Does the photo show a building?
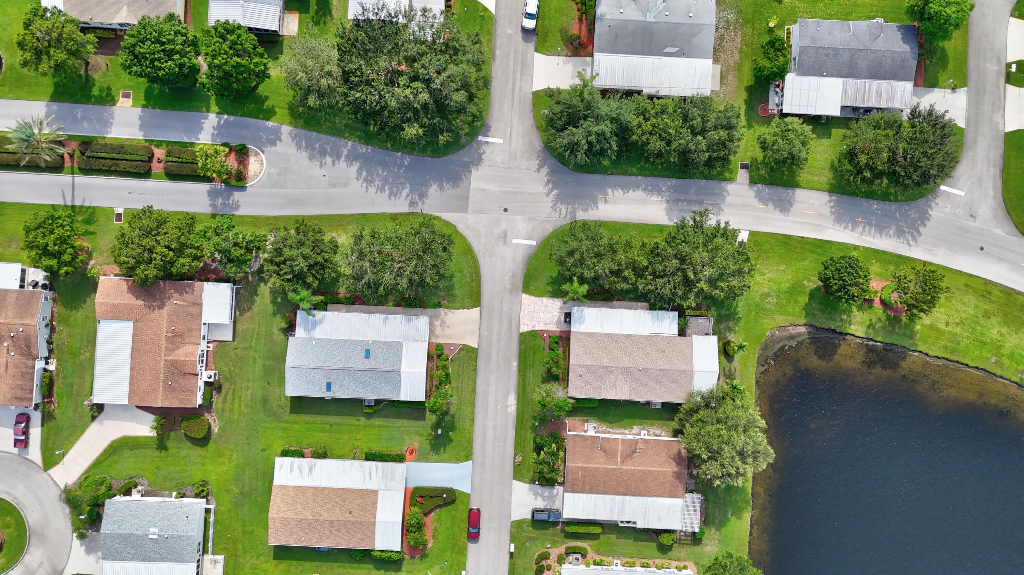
Yes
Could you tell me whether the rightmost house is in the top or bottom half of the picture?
top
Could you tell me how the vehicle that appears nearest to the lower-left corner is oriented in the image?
from top to bottom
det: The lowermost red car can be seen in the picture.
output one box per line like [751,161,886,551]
[467,507,481,540]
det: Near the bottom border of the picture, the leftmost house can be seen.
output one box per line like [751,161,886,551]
[96,490,206,575]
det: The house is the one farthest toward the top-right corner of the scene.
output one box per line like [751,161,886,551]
[782,18,919,116]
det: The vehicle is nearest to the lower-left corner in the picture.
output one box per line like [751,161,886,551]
[12,407,32,444]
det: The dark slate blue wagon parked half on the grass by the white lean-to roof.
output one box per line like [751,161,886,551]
[530,508,562,524]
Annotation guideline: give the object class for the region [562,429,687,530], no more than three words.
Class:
house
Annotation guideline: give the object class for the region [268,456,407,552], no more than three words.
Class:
house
